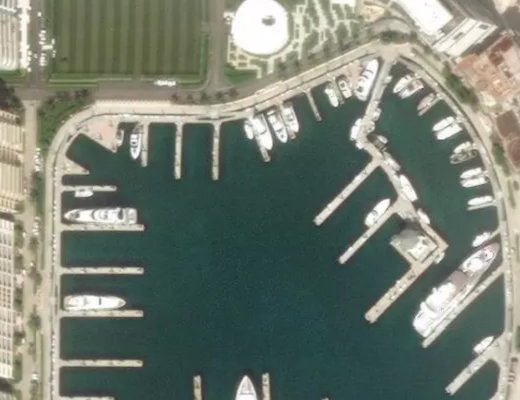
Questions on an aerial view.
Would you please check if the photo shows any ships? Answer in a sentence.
Yes, the picture does show a ship.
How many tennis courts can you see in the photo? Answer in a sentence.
The count of tennis courts is 0.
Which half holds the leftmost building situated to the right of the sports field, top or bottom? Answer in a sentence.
You can find the leftmost building situated to the right of the sports field in the top half.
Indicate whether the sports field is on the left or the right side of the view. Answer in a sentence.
It is on the left.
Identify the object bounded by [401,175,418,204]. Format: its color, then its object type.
white boat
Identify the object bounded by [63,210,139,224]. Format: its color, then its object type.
white boat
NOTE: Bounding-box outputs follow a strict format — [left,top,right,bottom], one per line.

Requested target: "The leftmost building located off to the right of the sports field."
[230,0,291,60]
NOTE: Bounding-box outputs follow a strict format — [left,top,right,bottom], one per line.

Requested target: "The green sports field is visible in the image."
[47,0,203,80]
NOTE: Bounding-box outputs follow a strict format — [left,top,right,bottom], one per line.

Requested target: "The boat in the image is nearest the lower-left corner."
[62,296,125,310]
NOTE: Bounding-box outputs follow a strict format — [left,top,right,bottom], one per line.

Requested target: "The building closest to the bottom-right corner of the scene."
[391,224,439,265]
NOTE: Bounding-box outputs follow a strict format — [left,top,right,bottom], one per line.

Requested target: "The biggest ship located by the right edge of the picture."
[413,243,500,338]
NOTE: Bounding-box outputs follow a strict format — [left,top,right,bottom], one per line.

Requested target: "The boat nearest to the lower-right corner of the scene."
[472,337,494,354]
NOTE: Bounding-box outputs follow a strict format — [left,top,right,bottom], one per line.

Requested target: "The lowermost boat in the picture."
[235,374,255,400]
